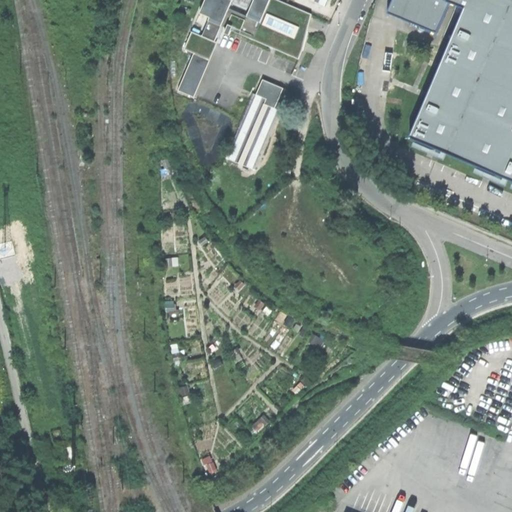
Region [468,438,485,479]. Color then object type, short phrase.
white vehicle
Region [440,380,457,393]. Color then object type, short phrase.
white vehicle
